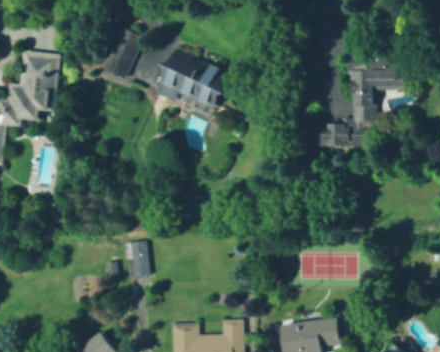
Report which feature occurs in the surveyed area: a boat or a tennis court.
tennis court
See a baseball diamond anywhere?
No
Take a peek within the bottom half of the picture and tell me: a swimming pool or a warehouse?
swimming pool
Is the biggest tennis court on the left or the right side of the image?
right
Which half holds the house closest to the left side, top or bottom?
top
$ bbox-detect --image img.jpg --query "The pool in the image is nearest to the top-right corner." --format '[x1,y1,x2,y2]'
[389,96,415,110]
